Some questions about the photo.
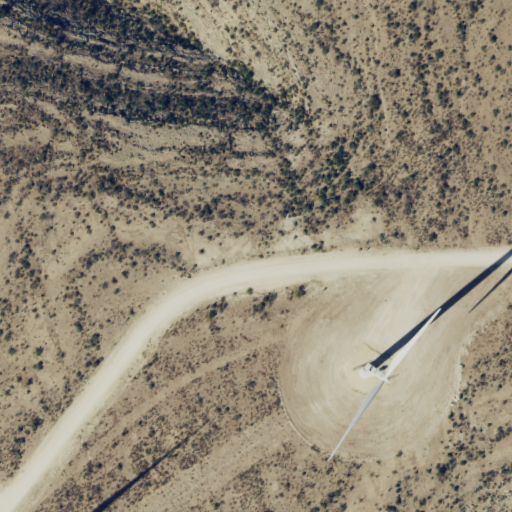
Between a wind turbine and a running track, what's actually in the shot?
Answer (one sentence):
There is a wind turbine in the scene.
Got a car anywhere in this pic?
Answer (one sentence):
No, no car can be seen from above.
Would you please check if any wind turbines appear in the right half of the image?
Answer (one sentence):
Yes, there is a wind turbine in the right half of the image.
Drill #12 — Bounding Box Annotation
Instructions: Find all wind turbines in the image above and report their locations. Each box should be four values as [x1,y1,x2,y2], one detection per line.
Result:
[332,308,440,461]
